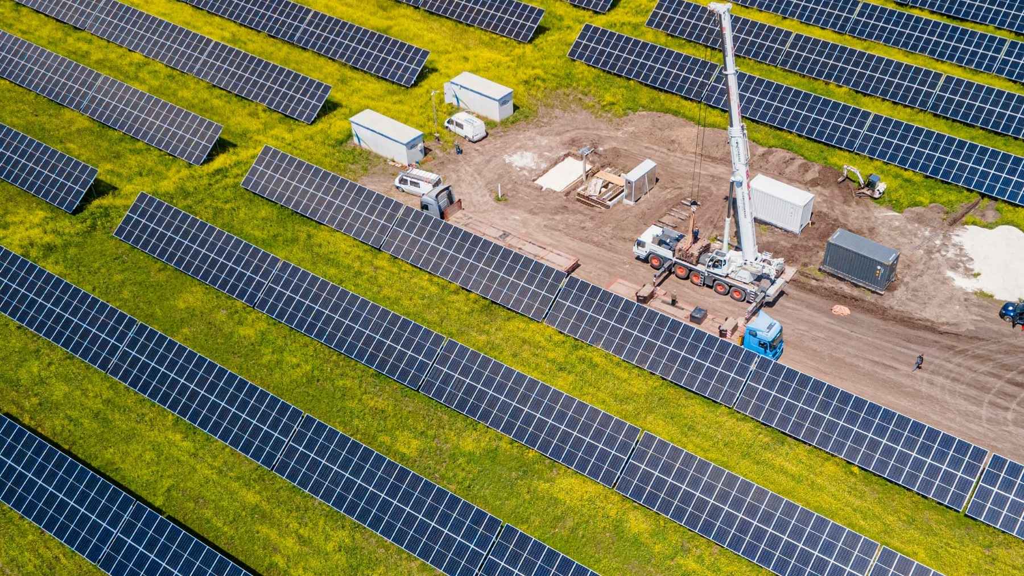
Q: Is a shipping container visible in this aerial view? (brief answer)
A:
Yes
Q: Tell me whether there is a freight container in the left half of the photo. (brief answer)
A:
No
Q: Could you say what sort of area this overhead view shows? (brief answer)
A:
solar farm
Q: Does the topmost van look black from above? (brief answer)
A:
No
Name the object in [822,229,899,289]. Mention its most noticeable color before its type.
gray shipping container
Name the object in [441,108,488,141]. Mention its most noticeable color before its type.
white van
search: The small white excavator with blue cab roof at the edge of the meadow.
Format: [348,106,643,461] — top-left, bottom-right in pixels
[840,162,886,205]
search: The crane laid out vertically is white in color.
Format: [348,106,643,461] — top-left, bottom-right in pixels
[633,4,787,326]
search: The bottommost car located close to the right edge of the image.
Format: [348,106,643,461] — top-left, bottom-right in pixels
[998,301,1024,327]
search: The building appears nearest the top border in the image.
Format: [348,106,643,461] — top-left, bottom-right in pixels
[443,73,515,121]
